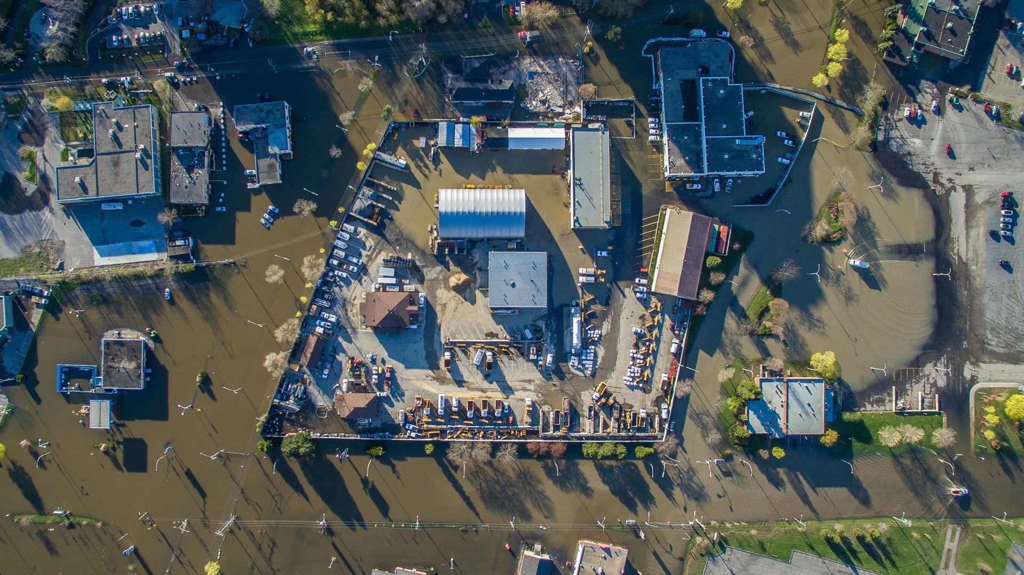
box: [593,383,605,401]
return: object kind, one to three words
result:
vehicle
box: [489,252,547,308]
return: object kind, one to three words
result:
building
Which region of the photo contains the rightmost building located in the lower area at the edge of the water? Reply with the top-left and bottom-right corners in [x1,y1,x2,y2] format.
[743,376,833,436]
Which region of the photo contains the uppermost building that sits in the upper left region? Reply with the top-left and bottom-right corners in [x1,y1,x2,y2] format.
[213,0,248,31]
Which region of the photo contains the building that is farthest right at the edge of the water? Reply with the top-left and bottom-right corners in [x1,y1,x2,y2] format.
[885,0,980,66]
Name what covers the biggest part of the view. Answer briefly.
water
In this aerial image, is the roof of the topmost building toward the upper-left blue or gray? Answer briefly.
blue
